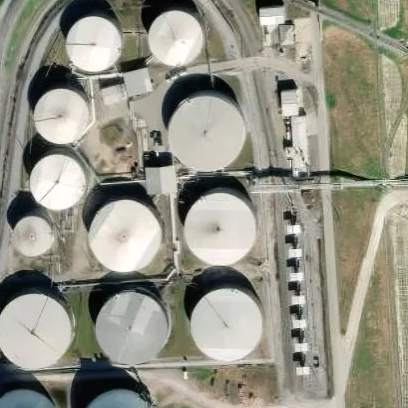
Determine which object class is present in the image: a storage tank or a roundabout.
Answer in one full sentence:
Of the two, only a storage tank appears.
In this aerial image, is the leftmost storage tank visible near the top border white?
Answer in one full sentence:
Yes, the leftmost storage tank visible near the top border is white.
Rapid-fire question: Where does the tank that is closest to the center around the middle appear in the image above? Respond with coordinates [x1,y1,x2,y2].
[184,188,258,266]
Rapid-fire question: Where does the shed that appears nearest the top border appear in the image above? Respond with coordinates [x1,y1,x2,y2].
[260,4,285,25]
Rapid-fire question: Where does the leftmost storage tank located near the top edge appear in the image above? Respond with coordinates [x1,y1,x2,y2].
[65,10,124,73]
